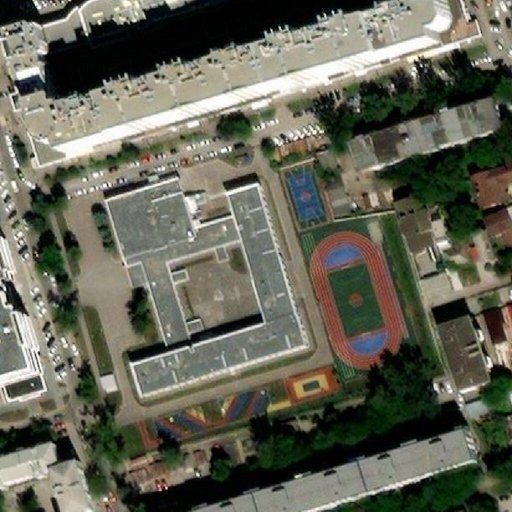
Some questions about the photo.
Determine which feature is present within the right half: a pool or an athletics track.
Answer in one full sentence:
The one visible within the right half is an athletics track.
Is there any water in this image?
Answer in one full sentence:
No, there is no water in the image.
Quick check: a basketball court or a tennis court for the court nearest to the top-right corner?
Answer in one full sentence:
In the photo, the court nearest to the top-right corner shows up as a basketball court.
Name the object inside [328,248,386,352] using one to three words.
soccer field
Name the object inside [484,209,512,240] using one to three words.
house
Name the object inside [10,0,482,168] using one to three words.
building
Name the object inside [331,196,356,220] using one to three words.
shed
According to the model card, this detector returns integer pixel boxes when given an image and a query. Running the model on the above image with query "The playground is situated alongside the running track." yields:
[138,390,291,448]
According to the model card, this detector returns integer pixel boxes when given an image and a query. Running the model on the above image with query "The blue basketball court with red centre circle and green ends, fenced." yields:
[281,159,331,231]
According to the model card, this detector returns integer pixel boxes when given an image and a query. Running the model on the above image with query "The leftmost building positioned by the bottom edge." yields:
[0,444,97,512]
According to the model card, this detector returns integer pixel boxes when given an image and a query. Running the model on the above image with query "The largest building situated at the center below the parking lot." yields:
[106,174,308,398]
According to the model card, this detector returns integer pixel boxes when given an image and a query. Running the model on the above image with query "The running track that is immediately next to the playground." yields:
[311,230,403,370]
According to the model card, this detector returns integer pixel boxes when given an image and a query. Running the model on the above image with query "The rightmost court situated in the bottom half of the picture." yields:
[286,368,342,403]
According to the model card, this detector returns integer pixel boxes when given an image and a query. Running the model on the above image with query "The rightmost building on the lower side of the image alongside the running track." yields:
[438,316,490,392]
